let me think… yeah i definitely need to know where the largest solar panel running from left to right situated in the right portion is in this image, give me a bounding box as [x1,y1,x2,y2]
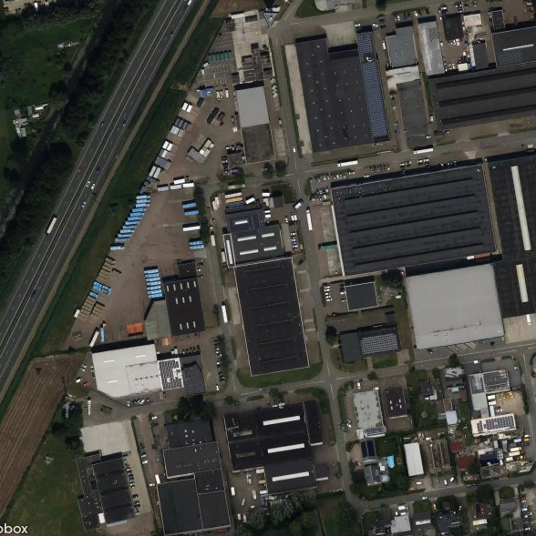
[361,332,398,355]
